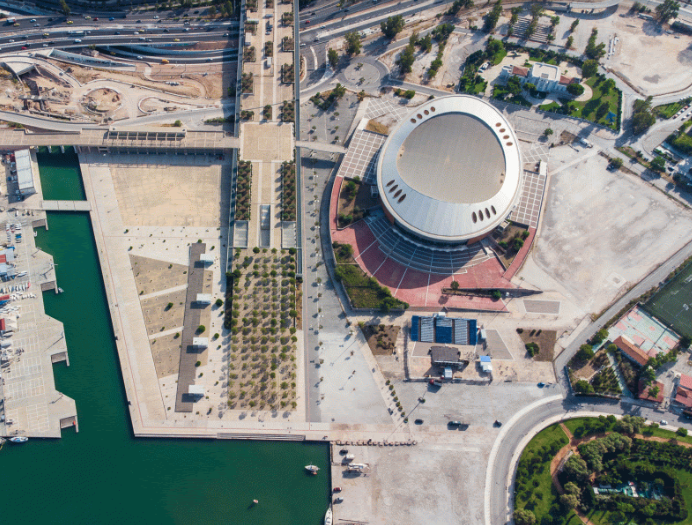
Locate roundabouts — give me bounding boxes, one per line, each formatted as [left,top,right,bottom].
[343,61,380,84]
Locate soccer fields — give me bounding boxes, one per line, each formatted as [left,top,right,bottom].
[644,261,692,341]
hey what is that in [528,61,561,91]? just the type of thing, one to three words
house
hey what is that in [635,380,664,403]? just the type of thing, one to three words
house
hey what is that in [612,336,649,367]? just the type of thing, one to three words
building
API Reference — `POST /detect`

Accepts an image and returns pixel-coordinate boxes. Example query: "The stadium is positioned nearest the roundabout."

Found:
[370,95,523,251]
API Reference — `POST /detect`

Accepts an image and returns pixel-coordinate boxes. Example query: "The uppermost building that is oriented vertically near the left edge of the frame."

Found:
[15,149,39,195]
